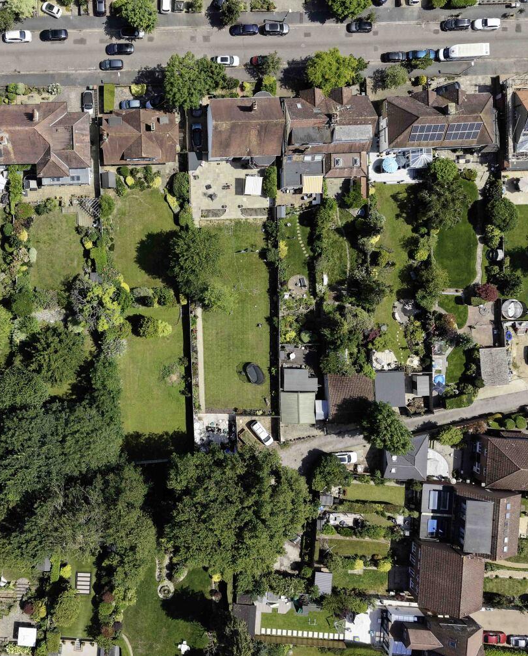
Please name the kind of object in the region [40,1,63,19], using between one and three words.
car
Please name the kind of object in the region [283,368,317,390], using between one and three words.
shed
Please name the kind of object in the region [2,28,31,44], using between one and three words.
car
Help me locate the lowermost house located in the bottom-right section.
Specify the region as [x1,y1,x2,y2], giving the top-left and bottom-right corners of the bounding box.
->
[381,600,483,656]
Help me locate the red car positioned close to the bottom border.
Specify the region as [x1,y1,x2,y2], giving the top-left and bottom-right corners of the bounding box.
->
[482,631,506,643]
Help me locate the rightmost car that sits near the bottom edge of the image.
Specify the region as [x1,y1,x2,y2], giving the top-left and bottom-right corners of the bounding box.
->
[509,634,528,646]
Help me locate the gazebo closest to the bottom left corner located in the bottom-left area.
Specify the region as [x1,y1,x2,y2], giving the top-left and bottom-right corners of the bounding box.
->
[18,624,37,647]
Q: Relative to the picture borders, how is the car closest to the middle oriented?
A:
on a diagonal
